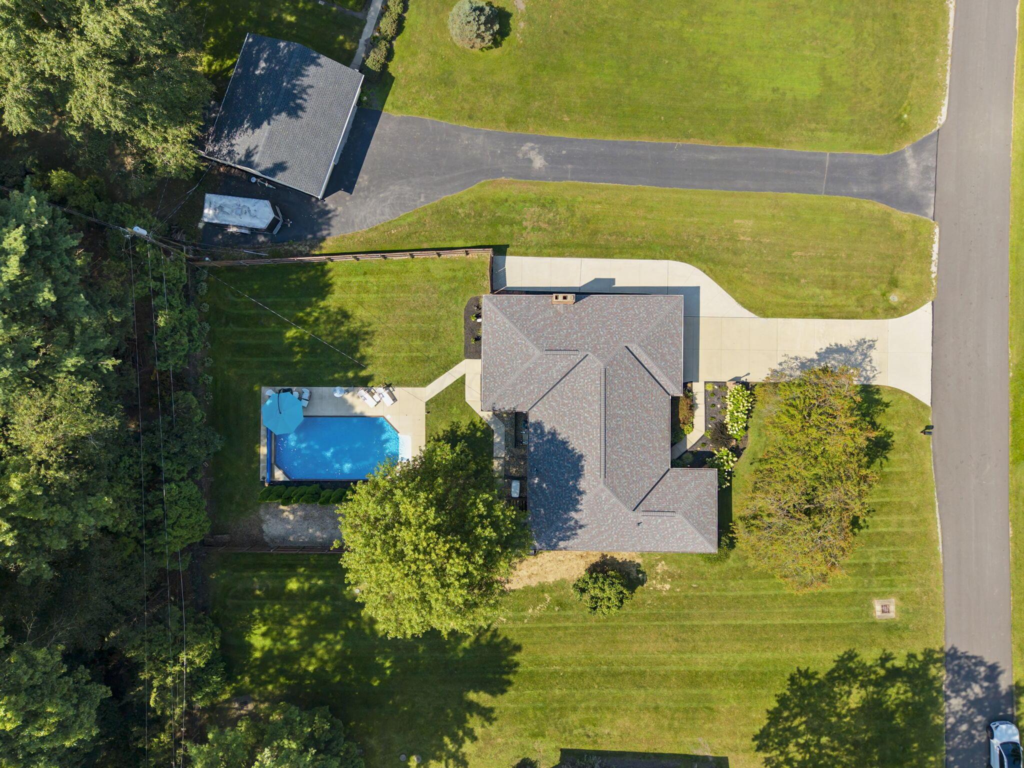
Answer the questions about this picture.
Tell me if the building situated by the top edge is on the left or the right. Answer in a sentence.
You can find the building situated by the top edge on the left side of the picture.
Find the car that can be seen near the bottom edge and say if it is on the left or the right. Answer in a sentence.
The car that can be seen near the bottom edge sits on the right side.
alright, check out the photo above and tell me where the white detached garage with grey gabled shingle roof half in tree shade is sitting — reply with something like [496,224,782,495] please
[204,33,366,199]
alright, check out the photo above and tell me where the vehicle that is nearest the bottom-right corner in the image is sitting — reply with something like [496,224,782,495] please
[985,721,1023,768]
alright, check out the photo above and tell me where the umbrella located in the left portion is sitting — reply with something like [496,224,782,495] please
[262,386,304,434]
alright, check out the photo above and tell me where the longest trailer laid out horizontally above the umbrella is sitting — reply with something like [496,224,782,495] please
[202,193,299,235]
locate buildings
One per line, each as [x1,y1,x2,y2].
[480,293,719,555]
[204,33,366,199]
